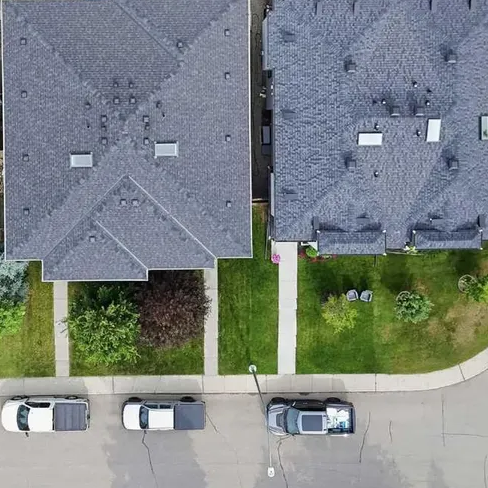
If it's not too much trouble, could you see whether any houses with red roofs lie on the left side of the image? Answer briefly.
No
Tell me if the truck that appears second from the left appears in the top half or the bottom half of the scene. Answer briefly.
bottom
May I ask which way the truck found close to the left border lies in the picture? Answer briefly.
from left to right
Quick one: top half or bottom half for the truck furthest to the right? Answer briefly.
bottom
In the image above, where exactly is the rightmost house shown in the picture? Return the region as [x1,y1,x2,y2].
[261,0,488,255]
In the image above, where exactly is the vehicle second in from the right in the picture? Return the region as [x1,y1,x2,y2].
[123,398,205,438]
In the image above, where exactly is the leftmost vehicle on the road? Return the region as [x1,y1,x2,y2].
[1,397,91,440]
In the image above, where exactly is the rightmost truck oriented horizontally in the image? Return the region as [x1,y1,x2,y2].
[270,398,358,441]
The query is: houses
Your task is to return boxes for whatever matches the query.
[0,0,253,282]
[261,0,488,255]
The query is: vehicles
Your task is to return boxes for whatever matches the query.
[1,397,91,440]
[123,398,205,438]
[270,398,358,441]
